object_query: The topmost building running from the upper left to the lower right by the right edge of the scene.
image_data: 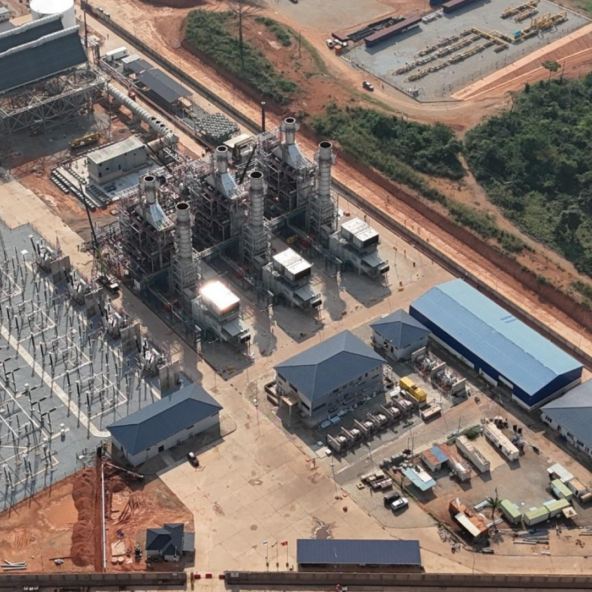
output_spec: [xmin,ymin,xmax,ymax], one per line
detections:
[408,277,585,410]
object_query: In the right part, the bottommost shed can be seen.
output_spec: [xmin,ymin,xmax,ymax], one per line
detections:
[298,537,422,573]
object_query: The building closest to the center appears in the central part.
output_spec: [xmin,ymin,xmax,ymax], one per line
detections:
[255,248,334,315]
